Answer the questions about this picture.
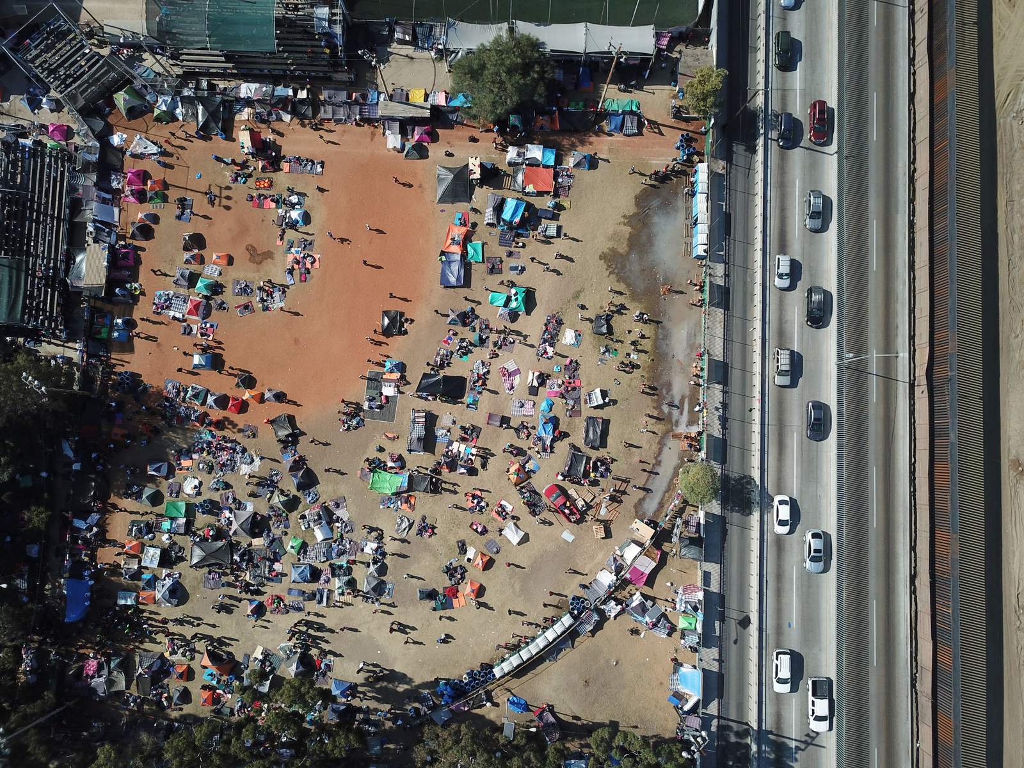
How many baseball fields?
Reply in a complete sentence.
I count 1 baseball field.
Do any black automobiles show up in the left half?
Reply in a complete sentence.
No, I see no black automobile in the left half.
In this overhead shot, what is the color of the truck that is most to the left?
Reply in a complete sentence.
From above, the truck that is most to the left appears red.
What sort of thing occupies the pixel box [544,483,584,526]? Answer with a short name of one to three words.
truck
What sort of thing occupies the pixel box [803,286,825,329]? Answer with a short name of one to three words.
car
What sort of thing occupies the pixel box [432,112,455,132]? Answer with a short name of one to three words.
tent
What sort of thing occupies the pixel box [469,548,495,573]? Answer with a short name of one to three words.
tent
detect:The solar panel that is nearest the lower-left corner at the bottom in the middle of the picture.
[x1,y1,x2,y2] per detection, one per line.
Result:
[501,721,516,744]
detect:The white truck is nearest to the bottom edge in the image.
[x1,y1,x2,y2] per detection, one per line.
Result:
[806,673,830,731]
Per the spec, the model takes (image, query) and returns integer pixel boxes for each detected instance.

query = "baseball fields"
[78,107,707,741]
